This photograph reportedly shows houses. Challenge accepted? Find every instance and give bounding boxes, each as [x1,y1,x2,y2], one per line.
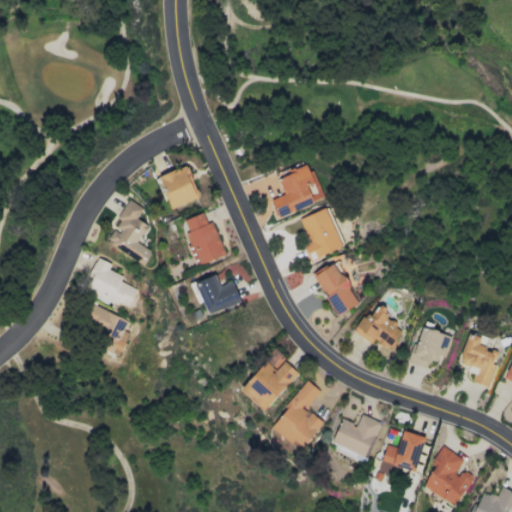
[300,208,345,262]
[428,450,476,508]
[190,276,244,314]
[92,300,134,354]
[481,486,512,512]
[156,166,200,208]
[462,334,512,389]
[270,162,327,220]
[353,304,406,346]
[276,380,326,442]
[186,213,226,264]
[92,253,140,310]
[107,198,153,264]
[314,264,360,316]
[244,361,300,410]
[376,430,427,482]
[408,322,456,370]
[332,413,384,464]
